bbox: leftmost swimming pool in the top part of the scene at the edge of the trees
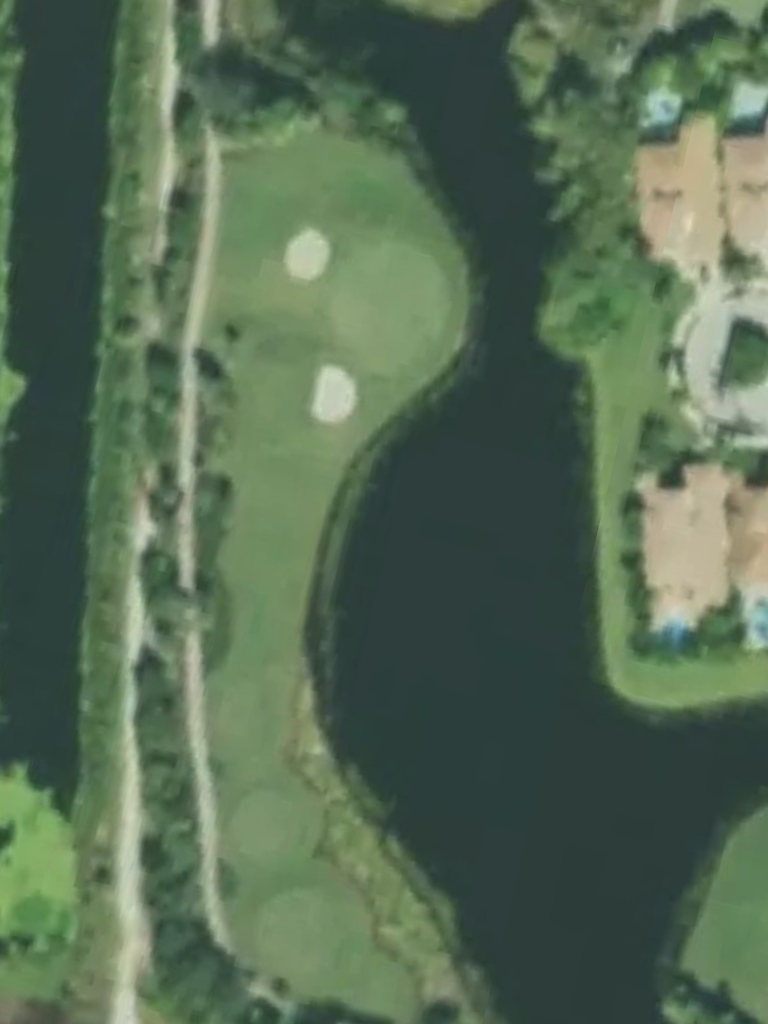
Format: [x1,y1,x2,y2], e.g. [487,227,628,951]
[644,91,681,141]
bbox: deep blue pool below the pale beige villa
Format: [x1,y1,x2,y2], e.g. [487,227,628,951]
[657,615,697,652]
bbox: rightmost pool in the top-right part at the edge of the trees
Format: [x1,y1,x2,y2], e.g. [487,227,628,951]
[731,81,768,137]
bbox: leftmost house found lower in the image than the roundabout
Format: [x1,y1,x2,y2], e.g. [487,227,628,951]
[638,464,734,630]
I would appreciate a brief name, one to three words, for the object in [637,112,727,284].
house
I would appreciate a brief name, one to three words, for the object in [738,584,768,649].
swimming pool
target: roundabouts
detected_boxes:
[687,284,768,436]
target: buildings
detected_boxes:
[729,487,768,586]
[722,111,768,275]
[637,112,727,284]
[638,464,734,630]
